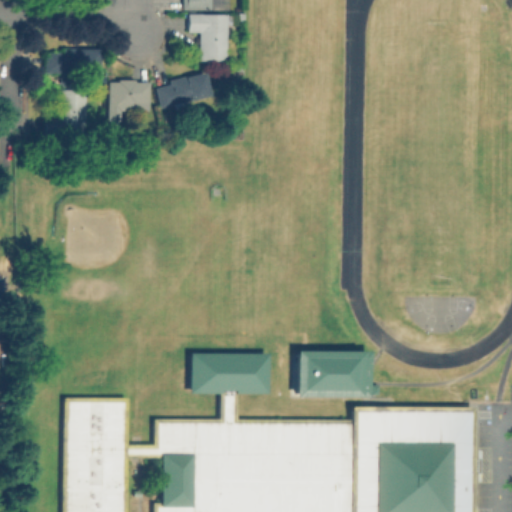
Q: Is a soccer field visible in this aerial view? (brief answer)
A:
Yes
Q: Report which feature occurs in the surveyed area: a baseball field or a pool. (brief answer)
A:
baseball field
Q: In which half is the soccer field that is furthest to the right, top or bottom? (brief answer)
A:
top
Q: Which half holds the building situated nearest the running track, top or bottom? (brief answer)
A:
bottom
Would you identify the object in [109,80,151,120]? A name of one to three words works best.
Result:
house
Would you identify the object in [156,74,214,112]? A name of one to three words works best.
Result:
house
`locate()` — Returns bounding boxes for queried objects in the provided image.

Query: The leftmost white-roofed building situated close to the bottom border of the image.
[63,398,127,512]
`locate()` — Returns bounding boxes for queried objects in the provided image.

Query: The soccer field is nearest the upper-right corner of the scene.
[372,16,507,284]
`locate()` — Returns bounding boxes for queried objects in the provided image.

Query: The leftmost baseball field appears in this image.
[66,206,130,270]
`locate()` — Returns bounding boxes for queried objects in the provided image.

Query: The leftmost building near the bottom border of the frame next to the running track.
[152,420,354,512]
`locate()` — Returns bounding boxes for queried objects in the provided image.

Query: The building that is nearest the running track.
[300,352,378,398]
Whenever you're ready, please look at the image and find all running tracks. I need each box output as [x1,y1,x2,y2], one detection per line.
[342,0,512,368]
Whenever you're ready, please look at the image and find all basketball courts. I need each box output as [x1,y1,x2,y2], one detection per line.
[405,297,476,334]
